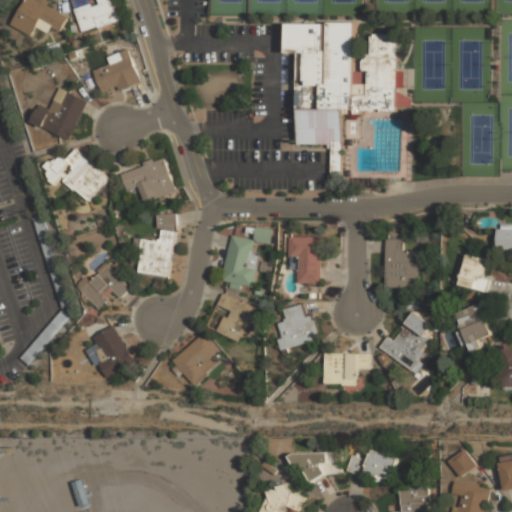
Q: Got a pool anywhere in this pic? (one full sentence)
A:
Yes, the picture does show a pool.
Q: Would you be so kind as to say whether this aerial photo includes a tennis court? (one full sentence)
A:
Yes, looking at the shot, I can spot a tennis court.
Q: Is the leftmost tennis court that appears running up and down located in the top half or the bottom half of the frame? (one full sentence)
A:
The leftmost tennis court that appears running up and down sits in the top half of the picture.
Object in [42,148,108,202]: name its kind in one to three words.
house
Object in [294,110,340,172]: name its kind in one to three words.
building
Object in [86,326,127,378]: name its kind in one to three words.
house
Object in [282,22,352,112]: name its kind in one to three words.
building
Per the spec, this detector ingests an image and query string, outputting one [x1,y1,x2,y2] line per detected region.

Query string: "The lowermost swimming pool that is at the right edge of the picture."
[478,216,502,230]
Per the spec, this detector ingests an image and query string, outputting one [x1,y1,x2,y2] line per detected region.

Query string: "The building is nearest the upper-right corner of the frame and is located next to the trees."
[346,33,411,119]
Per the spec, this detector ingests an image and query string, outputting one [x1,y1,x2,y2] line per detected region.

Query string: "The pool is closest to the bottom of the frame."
[284,272,298,294]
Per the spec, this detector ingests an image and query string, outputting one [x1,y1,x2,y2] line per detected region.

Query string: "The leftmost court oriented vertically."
[415,27,452,102]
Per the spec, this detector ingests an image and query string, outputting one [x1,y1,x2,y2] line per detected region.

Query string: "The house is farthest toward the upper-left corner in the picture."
[9,0,69,36]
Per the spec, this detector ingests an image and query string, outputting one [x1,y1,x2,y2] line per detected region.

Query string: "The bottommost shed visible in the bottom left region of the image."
[70,480,90,506]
